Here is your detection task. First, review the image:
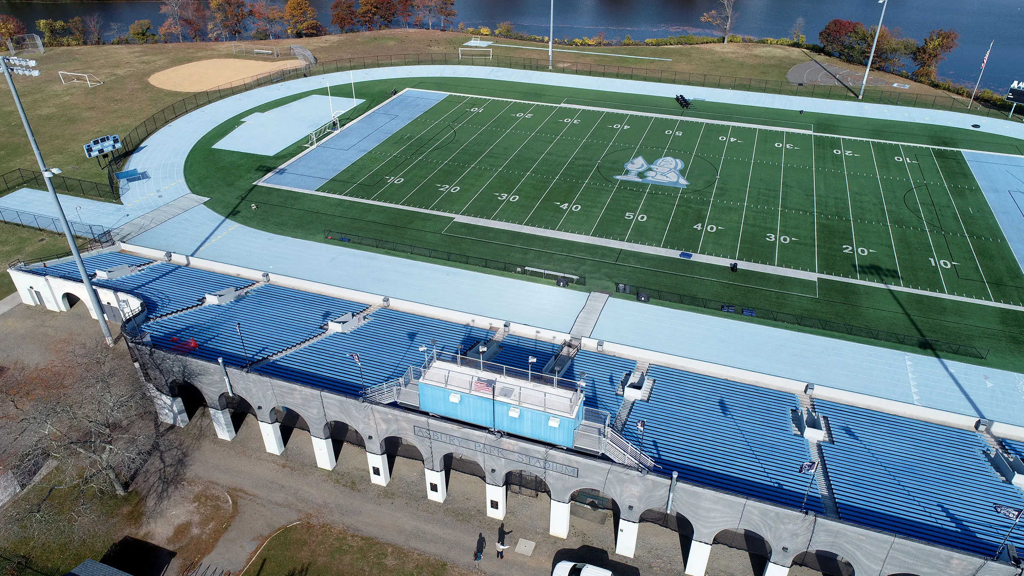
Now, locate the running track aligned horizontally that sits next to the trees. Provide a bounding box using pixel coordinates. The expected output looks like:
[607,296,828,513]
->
[0,65,1024,425]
